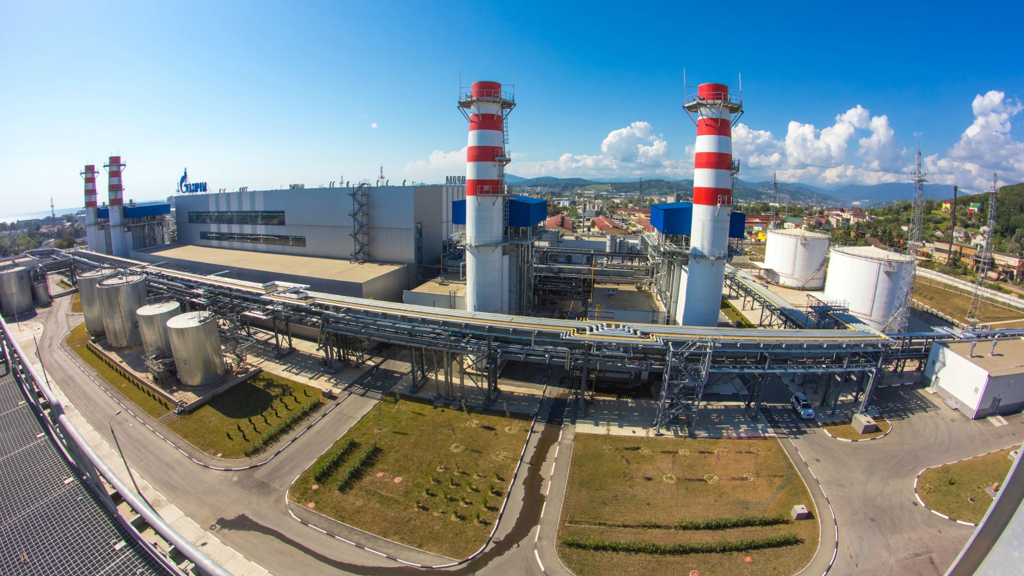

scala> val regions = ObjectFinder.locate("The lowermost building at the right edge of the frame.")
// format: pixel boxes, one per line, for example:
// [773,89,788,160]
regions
[921,335,1024,424]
